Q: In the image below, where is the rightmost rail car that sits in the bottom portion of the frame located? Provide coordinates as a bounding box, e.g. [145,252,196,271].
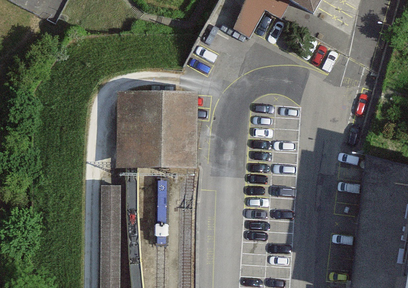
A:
[154,176,168,248]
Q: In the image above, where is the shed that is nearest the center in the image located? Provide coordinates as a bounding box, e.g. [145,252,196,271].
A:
[116,91,198,168]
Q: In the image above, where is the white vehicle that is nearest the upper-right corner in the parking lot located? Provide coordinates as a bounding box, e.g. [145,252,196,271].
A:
[322,50,338,73]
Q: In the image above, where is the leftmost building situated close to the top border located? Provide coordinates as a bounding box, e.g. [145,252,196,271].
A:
[234,0,290,38]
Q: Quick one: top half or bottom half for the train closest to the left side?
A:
bottom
